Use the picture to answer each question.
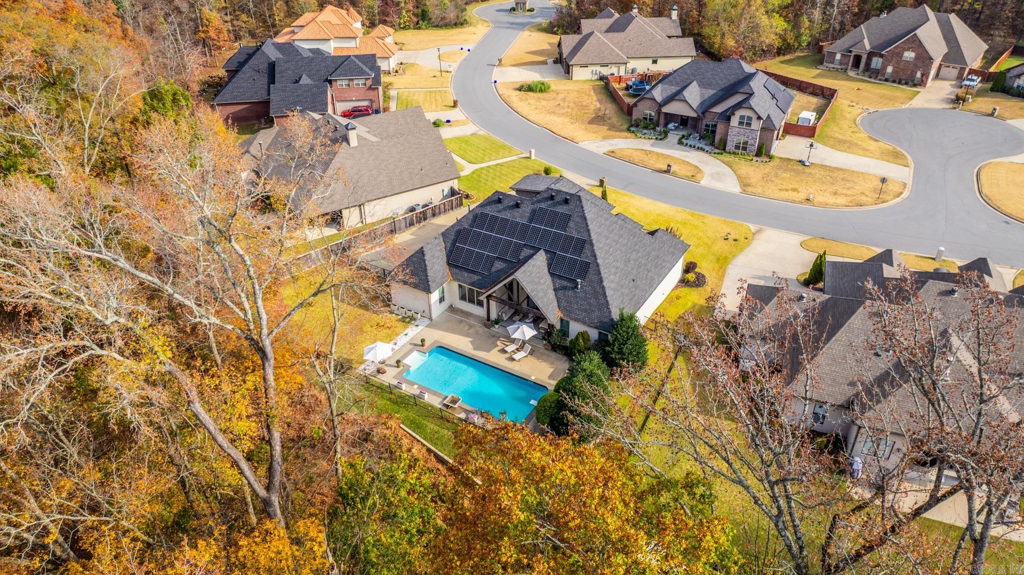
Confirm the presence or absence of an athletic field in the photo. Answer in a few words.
No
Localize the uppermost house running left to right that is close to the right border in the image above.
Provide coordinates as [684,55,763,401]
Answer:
[824,4,991,87]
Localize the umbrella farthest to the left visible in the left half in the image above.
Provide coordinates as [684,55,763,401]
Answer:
[353,329,392,364]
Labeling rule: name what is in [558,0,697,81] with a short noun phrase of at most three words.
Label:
house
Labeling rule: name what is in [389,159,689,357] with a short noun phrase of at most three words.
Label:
house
